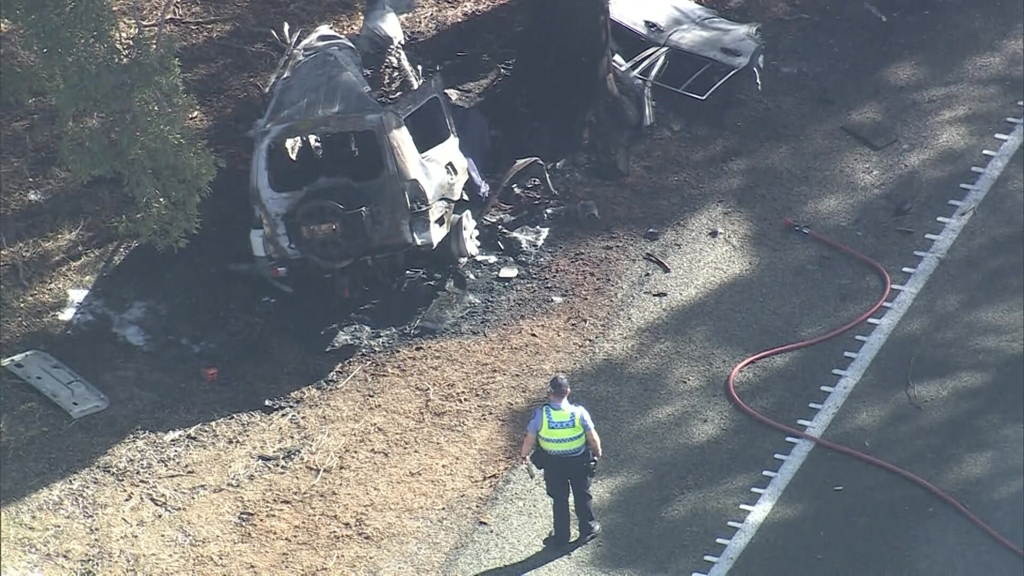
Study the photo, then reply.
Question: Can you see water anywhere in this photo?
No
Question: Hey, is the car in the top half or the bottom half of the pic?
top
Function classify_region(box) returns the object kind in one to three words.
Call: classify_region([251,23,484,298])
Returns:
car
